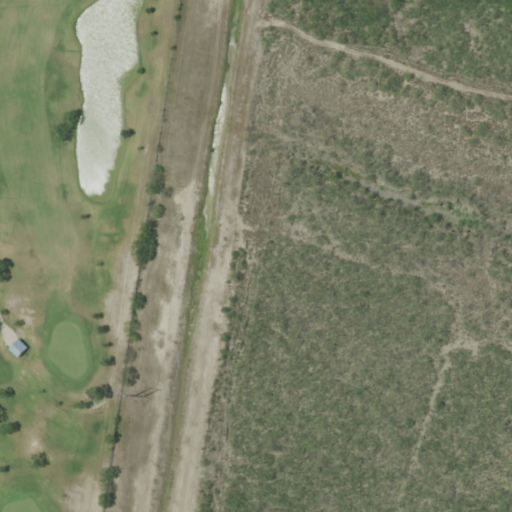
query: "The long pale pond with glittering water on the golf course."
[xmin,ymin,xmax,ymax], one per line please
[78,0,141,194]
